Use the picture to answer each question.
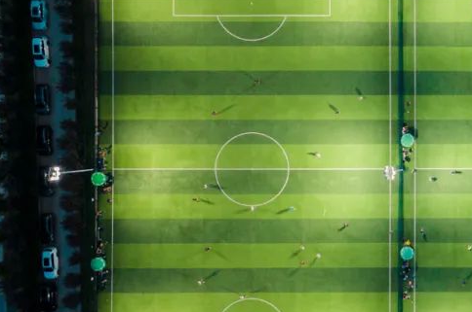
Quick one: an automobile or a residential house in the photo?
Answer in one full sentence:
It is an automobile that can be seen here.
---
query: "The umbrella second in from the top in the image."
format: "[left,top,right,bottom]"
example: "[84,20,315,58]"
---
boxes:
[92,171,109,186]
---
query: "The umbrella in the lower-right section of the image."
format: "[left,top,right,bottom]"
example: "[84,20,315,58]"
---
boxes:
[400,246,413,260]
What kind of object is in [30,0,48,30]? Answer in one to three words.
car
